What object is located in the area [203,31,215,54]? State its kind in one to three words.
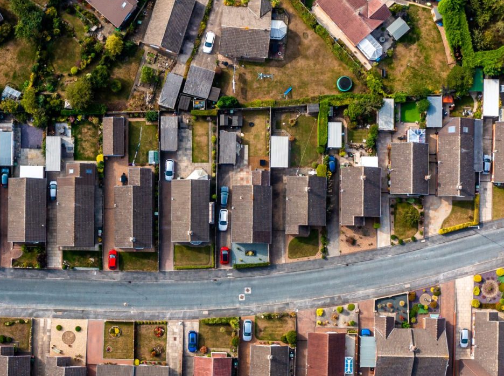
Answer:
vehicle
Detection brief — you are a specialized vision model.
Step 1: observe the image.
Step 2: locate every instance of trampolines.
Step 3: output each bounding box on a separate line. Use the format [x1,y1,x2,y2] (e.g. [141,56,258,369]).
[337,74,354,92]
